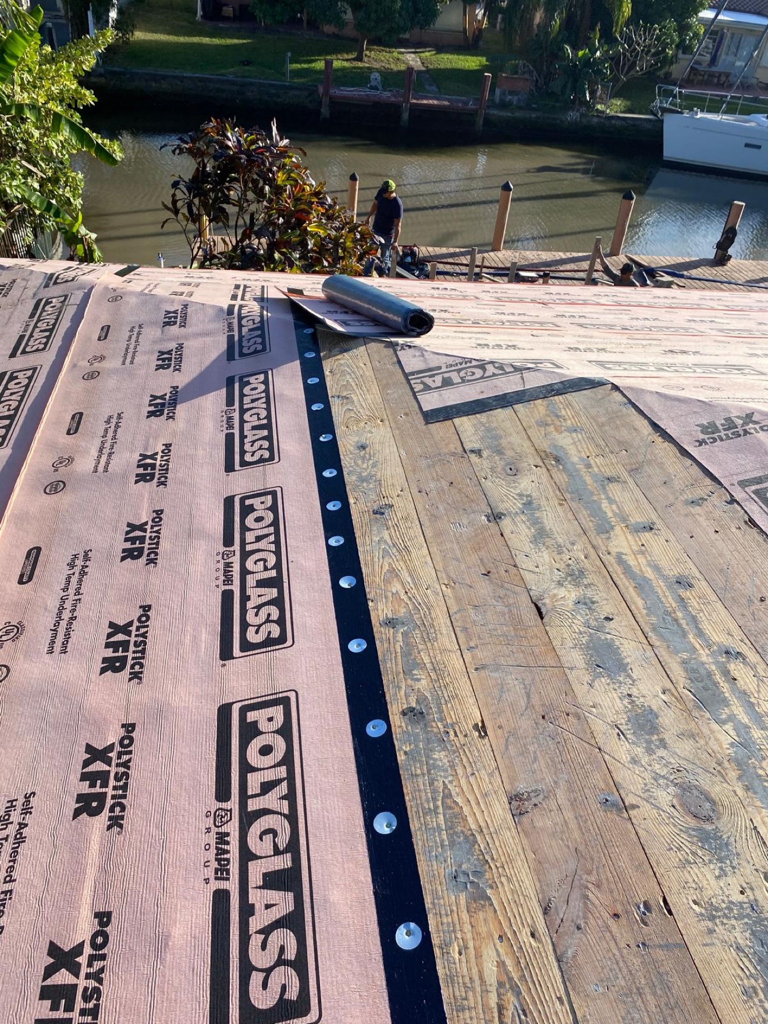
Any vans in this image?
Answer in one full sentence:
No, the scene contains no van.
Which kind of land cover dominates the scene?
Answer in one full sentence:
The largest share of the image is taken up by buildings.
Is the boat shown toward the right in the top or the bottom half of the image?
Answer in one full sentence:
The top half of the photo is where the boat shown toward the right is.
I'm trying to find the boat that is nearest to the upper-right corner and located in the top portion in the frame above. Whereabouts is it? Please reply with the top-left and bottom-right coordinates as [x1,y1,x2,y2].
[641,0,768,175]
